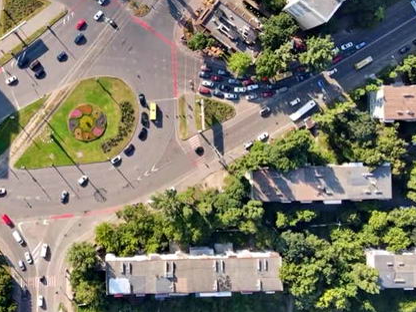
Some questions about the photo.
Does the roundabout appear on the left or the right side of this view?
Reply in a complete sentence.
You can find the roundabout on the left side of the picture.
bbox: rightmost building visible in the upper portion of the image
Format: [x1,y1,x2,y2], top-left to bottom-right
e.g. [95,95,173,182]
[364,86,416,125]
